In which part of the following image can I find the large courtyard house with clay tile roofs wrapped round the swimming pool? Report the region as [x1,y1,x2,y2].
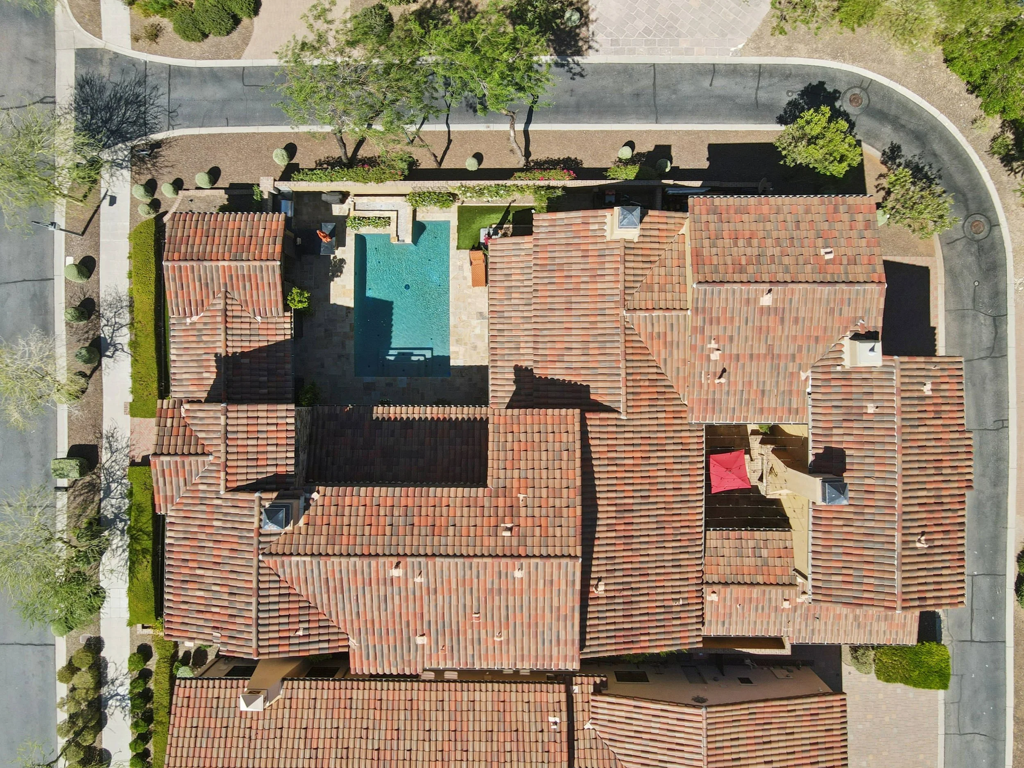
[148,193,976,676]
